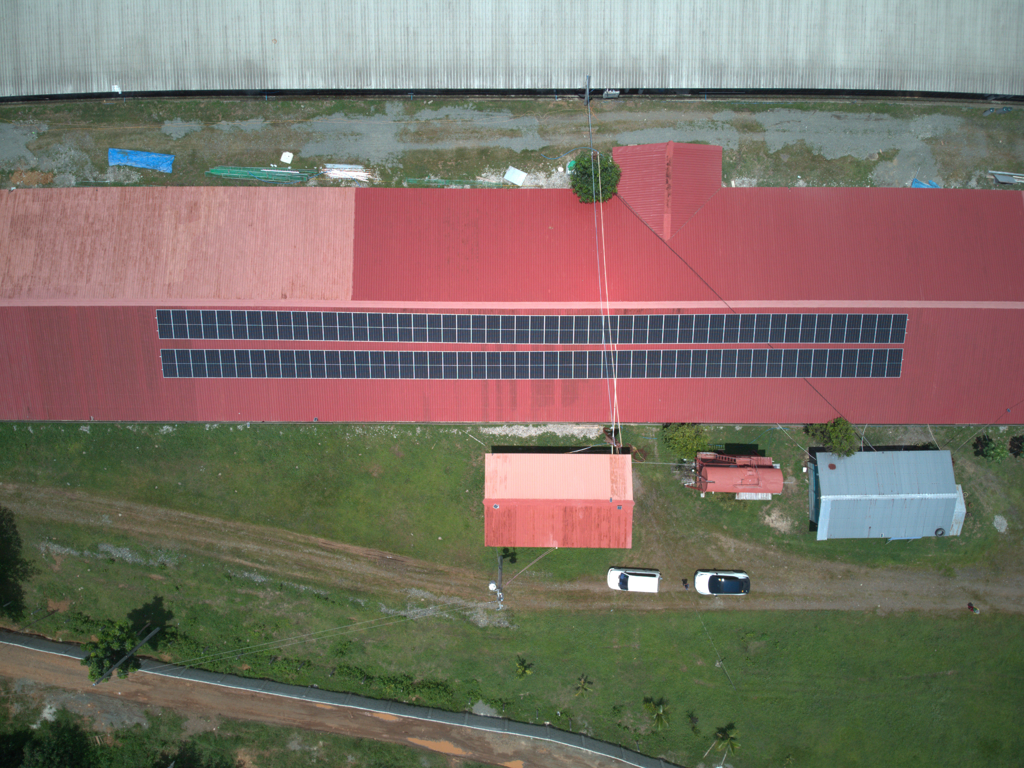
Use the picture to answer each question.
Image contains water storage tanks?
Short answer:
Yes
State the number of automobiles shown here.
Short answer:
2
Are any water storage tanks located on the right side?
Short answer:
Yes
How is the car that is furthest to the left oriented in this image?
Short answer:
horizontally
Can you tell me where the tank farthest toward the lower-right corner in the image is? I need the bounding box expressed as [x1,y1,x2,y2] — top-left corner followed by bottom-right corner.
[685,450,792,500]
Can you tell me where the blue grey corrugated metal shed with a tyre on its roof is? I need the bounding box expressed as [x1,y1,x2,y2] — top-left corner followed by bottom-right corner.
[802,451,966,540]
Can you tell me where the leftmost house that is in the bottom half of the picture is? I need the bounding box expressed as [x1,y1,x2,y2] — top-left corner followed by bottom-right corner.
[482,453,637,548]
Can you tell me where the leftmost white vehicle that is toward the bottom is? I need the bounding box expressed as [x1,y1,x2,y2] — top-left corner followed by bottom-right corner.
[607,567,660,594]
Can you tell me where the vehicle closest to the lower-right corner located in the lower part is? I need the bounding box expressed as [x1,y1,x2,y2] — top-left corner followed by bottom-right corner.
[693,569,751,598]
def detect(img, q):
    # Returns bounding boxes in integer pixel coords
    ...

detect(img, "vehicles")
[693,569,751,598]
[607,567,660,594]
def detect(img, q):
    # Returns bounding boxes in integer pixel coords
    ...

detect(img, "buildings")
[0,142,1024,425]
[0,0,1024,104]
[482,453,637,548]
[802,451,966,540]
